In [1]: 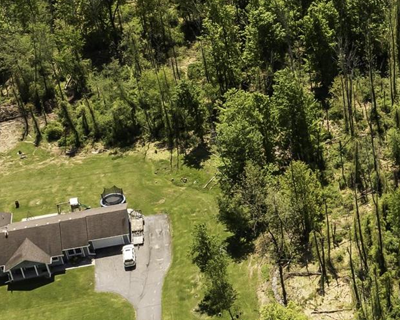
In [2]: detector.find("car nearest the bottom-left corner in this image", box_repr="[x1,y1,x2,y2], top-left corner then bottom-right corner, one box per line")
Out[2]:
[121,246,135,270]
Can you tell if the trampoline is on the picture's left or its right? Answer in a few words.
left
